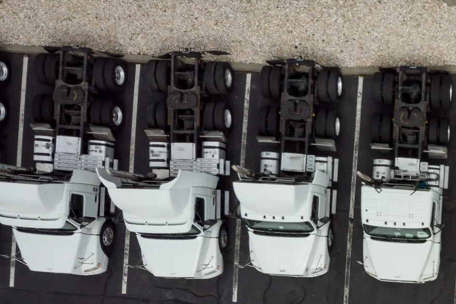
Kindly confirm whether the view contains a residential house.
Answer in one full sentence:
No, there isn't any residential house down there.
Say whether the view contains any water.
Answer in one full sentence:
No, the picture contains no water.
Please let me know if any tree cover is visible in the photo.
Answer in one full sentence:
No, the scene doesn't show any tree cover.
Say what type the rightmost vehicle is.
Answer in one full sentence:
Looking closely, the rightmost vehicle is a truck.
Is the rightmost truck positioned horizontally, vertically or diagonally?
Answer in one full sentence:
What the image shows is the rightmost truck lying vertically.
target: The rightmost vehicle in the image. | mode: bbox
[348,61,453,285]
